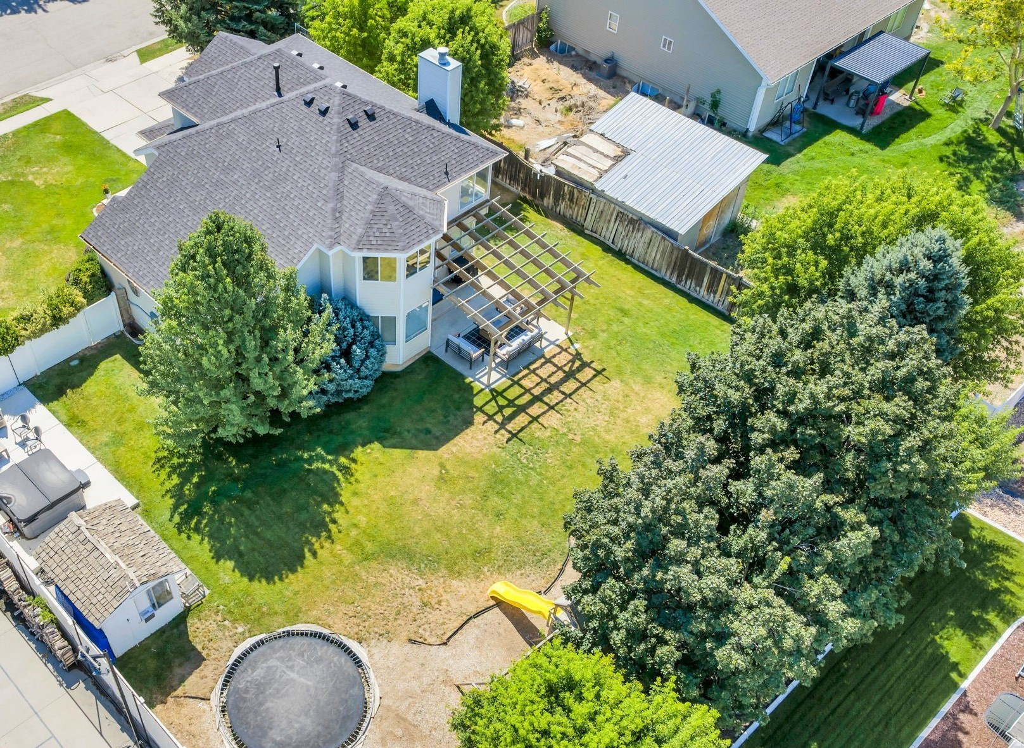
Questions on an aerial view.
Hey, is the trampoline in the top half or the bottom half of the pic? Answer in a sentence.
It is in the bottom half that the trampoline appears.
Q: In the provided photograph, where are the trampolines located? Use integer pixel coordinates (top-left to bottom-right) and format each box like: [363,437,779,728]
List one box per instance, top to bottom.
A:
[212,627,381,748]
